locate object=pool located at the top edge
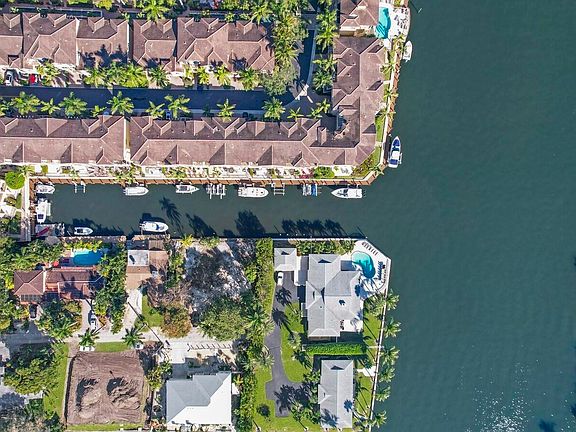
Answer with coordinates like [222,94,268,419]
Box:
[375,4,393,40]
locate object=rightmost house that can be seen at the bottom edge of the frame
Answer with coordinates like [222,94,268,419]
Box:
[318,358,354,429]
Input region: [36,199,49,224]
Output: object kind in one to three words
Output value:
boat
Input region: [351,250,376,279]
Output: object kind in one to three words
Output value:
swimming pool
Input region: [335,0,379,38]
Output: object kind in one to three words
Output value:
house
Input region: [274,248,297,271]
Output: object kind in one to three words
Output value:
building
